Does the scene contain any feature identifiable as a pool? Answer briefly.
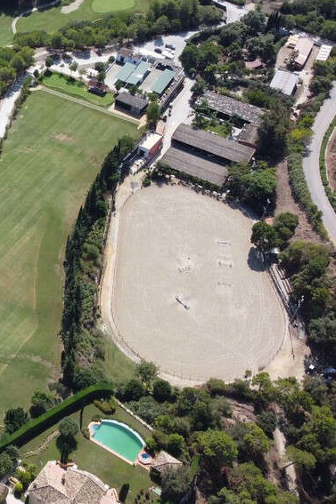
Yes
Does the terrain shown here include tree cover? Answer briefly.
Yes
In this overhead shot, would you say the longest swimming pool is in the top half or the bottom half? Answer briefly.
bottom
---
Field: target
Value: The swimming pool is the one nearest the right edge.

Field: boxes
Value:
[137,450,152,463]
